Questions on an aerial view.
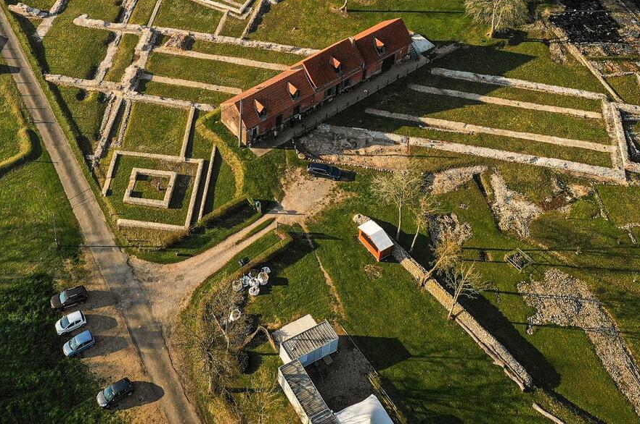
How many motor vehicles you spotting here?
five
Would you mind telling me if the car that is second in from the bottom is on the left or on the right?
left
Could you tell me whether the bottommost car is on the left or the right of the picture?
left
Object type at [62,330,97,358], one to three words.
car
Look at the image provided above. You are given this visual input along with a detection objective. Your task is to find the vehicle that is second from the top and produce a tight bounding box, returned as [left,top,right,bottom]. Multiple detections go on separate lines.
[50,284,88,311]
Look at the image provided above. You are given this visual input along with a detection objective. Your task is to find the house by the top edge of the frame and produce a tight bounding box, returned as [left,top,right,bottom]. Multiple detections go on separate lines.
[217,16,413,148]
